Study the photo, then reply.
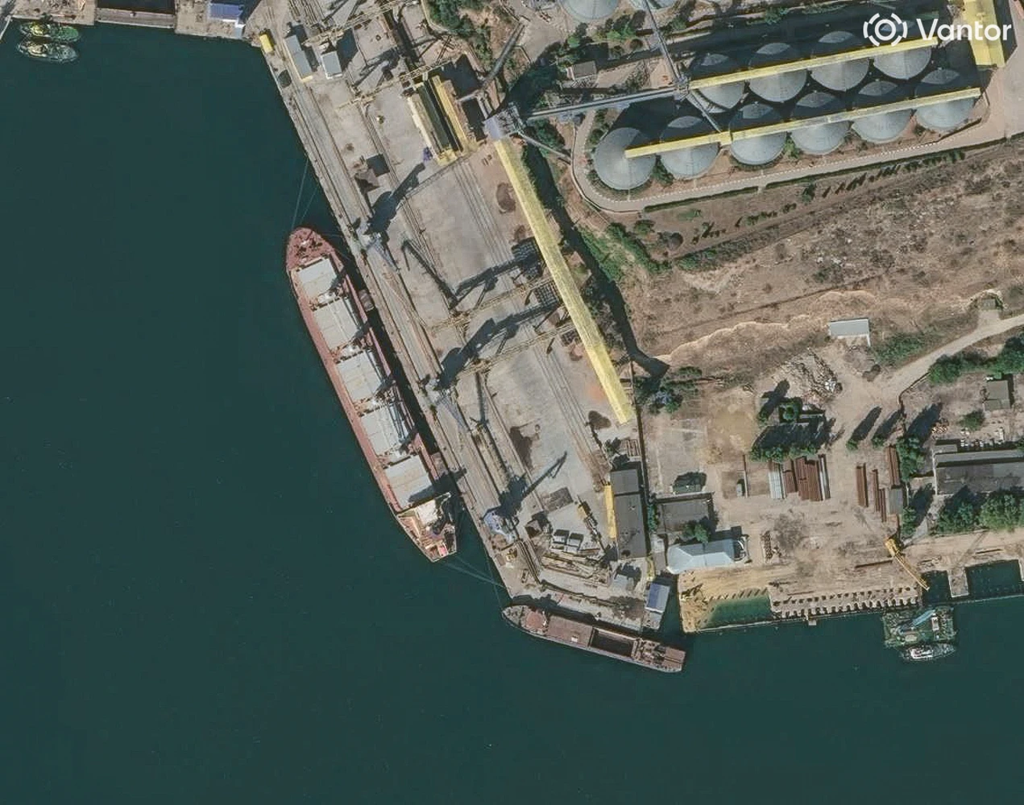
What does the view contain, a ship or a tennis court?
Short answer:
ship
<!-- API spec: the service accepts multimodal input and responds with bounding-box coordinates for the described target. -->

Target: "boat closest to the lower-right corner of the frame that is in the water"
[900,642,957,662]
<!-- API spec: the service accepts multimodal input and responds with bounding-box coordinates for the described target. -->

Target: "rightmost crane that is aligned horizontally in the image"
[884,609,956,646]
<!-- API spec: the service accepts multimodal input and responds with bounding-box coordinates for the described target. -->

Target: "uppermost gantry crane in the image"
[302,0,421,50]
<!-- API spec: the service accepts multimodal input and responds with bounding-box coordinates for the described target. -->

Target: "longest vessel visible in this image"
[287,227,457,562]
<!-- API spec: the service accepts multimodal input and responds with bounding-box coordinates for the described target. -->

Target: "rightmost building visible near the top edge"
[964,0,1005,67]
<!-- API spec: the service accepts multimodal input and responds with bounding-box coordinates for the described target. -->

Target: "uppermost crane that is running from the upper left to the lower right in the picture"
[350,209,401,273]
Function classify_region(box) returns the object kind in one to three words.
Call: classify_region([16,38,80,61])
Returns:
boat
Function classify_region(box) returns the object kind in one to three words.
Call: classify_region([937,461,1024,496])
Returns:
building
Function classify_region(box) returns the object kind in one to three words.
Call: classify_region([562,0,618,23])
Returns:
silo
